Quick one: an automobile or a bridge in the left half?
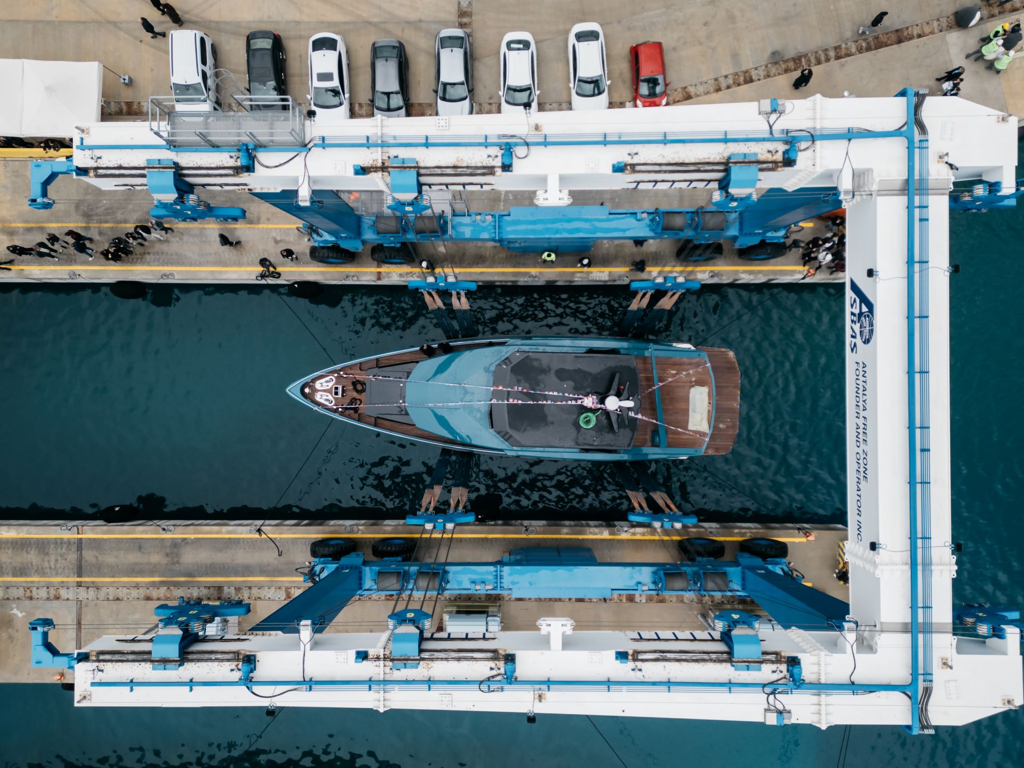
automobile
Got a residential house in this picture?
No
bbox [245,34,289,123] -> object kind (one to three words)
car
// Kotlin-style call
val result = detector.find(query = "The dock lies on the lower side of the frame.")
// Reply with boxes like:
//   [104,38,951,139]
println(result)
[0,518,850,680]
